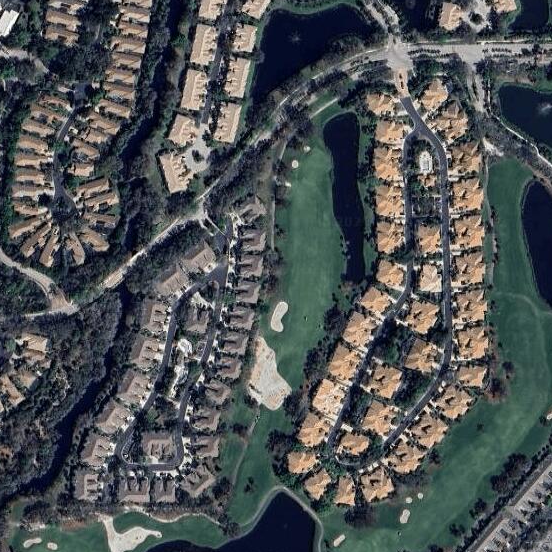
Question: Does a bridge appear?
Yes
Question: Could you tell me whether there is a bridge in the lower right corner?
No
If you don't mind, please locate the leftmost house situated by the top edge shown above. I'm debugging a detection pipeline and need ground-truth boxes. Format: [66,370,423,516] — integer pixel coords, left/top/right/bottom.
[0,10,19,40]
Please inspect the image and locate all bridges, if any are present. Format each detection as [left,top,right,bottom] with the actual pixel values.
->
[97,253,140,293]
